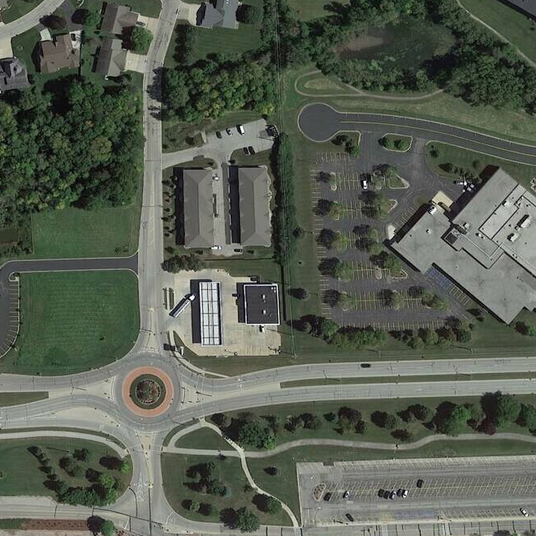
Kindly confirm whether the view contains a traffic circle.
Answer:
Yes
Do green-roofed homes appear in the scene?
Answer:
No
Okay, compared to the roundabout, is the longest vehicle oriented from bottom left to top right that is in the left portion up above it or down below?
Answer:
above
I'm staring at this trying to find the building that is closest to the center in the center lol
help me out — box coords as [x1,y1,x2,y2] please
[244,284,280,324]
